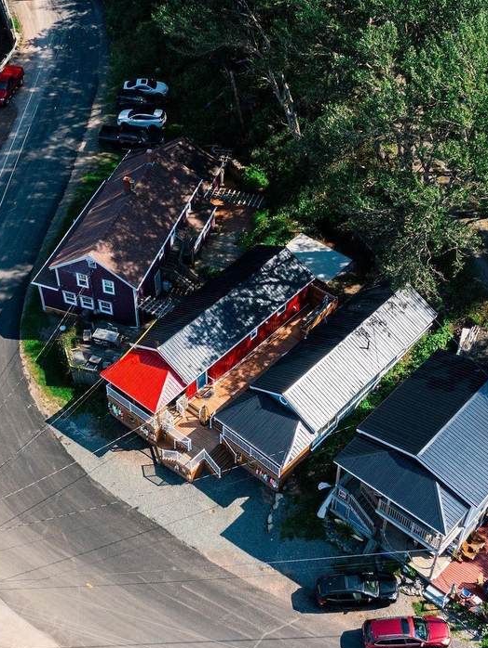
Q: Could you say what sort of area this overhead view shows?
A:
residential area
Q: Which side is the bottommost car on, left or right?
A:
right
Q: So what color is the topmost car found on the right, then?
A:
black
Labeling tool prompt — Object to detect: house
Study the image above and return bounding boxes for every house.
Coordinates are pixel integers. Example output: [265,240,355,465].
[99,244,317,441]
[30,129,220,333]
[214,280,439,491]
[318,346,488,575]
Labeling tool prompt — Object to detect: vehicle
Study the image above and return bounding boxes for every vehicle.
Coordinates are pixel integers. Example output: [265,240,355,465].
[115,106,170,130]
[314,560,406,606]
[113,89,165,111]
[354,605,453,648]
[119,74,171,98]
[0,62,27,103]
